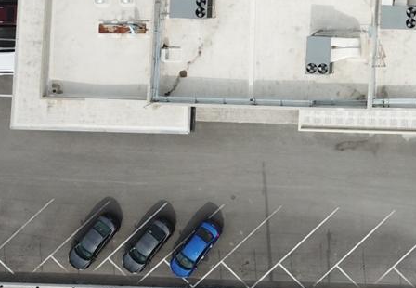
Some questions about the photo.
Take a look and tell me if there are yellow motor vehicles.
No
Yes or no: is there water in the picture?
No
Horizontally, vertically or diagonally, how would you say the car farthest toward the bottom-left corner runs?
diagonally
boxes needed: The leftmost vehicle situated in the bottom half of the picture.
[70,209,124,271]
